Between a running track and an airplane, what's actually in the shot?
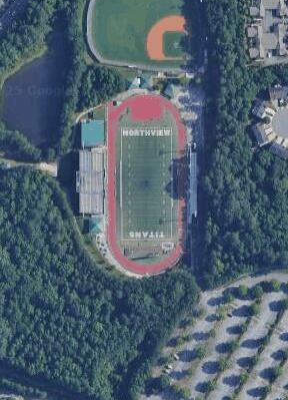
running track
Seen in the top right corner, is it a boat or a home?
home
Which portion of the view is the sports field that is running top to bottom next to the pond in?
center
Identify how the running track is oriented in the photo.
vertically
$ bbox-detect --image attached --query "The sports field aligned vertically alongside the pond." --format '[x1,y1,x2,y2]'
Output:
[116,109,179,267]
